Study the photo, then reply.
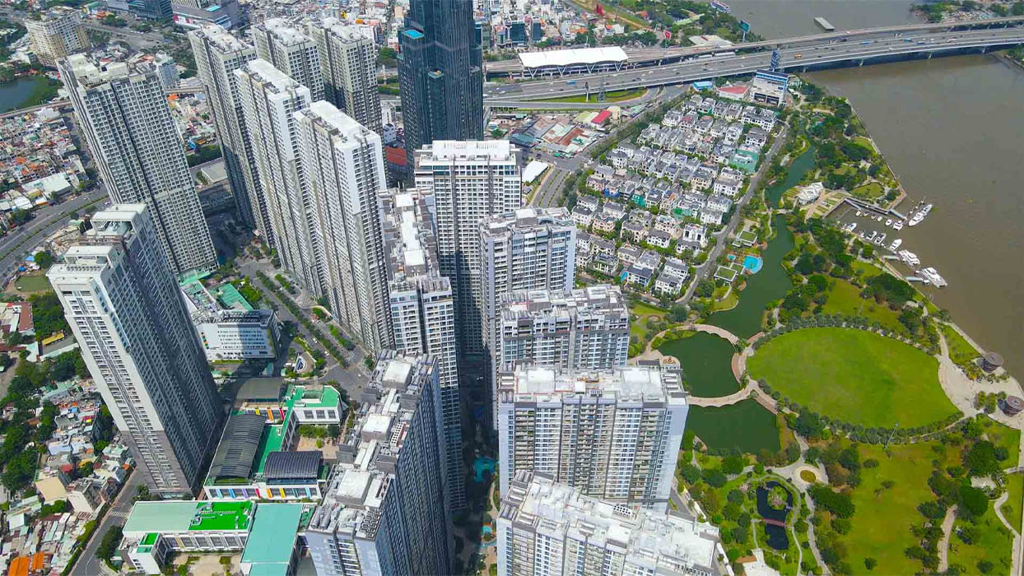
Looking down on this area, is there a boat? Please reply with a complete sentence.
Yes, the image includes a boat.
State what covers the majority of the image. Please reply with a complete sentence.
Most of the picture is covered by buildings.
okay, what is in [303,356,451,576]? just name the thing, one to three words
building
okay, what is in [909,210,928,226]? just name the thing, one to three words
boat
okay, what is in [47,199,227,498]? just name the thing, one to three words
building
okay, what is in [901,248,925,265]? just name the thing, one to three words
boat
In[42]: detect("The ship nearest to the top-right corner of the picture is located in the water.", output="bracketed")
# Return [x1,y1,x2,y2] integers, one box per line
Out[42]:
[813,16,836,30]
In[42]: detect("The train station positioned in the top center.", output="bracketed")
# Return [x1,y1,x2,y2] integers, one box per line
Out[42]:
[520,52,628,77]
